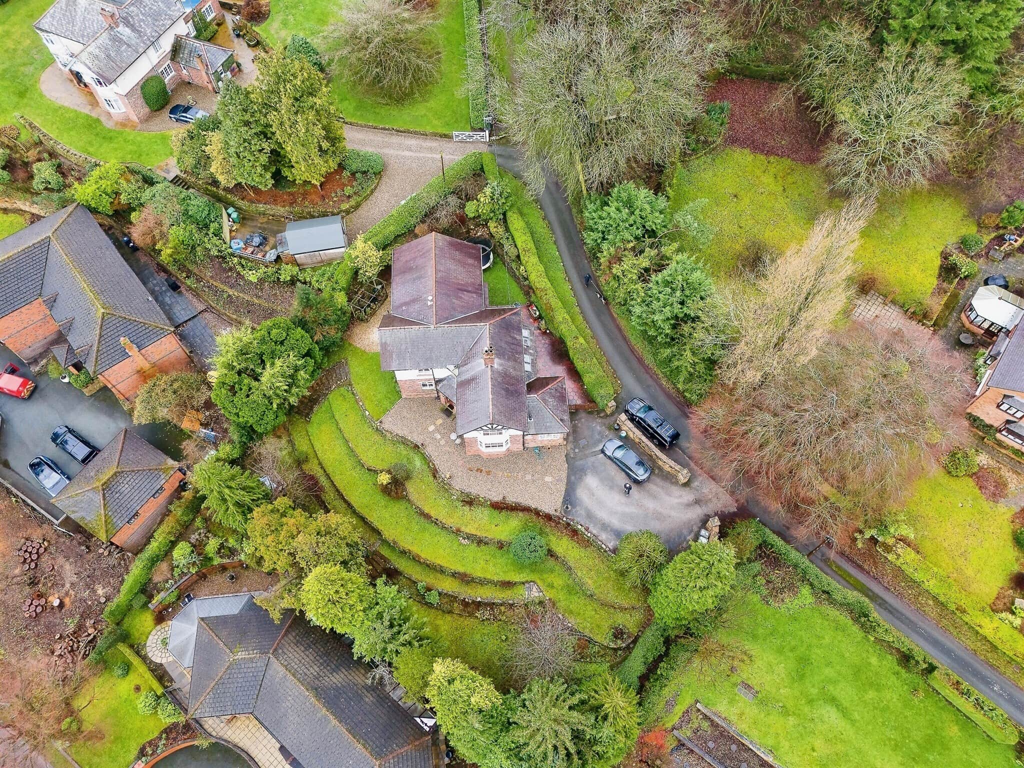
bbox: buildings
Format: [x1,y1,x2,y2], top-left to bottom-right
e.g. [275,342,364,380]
[21,0,239,129]
[50,427,189,555]
[0,202,189,397]
[285,216,350,269]
[168,593,443,768]
[958,285,1024,447]
[379,231,571,468]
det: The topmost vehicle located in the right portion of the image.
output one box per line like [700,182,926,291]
[624,398,684,452]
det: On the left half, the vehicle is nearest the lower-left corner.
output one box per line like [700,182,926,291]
[26,456,71,509]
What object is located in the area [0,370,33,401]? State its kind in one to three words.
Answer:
van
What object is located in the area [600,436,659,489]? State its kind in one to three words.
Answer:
car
